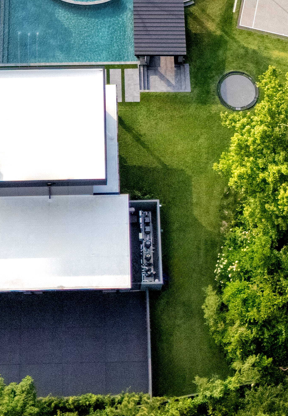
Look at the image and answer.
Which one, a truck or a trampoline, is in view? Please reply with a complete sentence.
I can see a trampoline in this picture.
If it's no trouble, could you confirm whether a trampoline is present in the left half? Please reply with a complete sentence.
No, I can find no trampoline in the left half.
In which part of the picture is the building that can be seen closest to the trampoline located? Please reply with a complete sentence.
Look in the top portion of the view to spot the building that can be seen closest to the trampoline.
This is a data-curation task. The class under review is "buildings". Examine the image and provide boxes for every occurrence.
[0,67,131,295]
[133,0,194,93]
